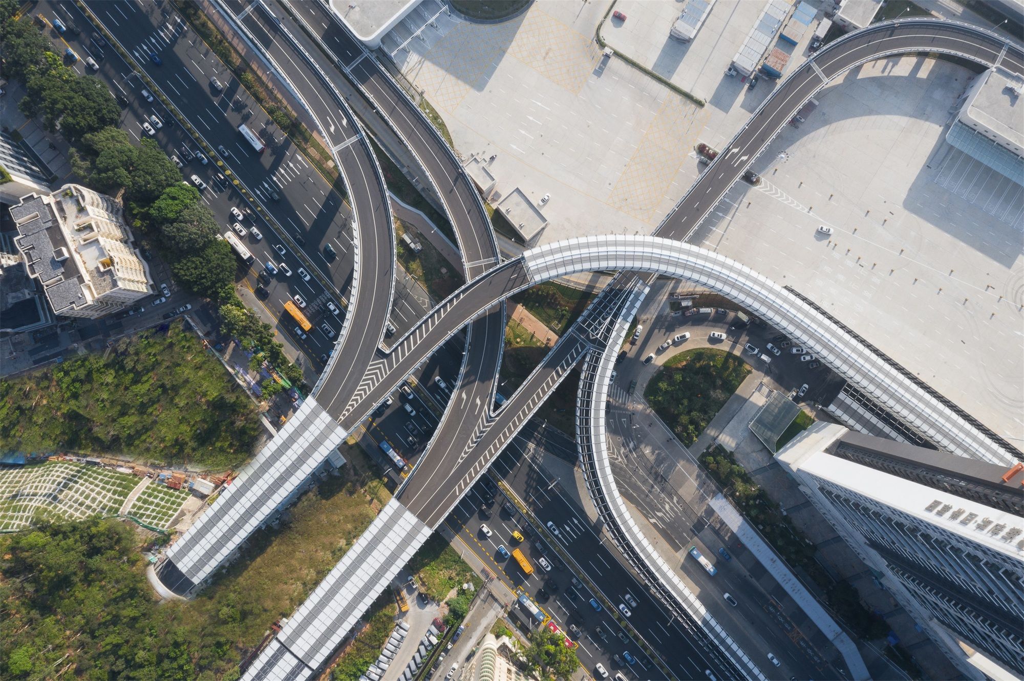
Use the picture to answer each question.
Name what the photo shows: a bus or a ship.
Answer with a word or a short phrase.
bus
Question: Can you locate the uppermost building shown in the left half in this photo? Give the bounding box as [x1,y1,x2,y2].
[329,0,441,60]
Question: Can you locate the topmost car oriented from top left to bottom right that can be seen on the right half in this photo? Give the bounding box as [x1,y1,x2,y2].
[612,8,628,21]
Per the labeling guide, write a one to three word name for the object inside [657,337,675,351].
vehicle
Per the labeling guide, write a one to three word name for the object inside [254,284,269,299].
car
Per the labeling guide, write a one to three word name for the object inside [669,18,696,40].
building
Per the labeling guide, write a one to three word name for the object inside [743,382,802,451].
building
